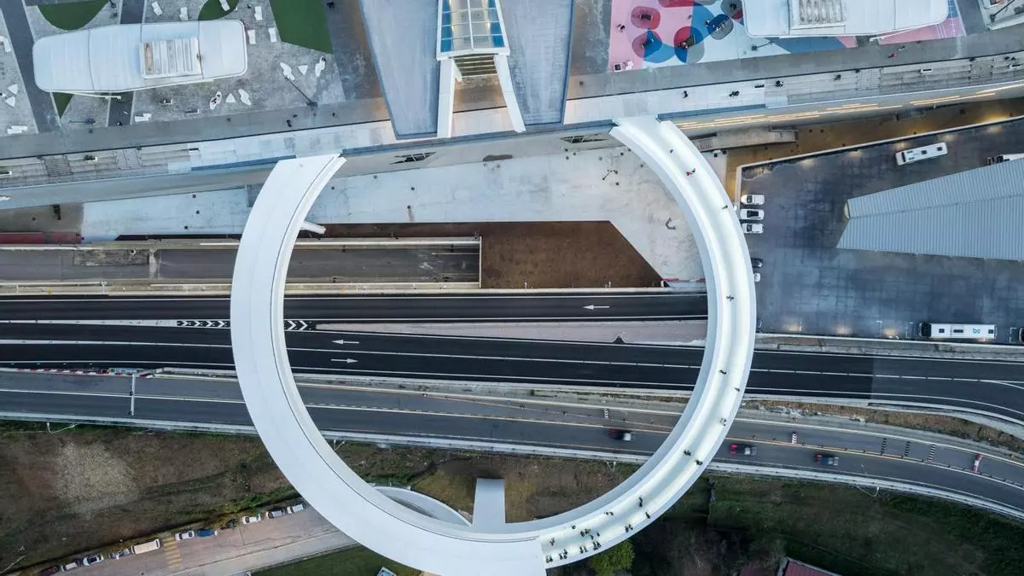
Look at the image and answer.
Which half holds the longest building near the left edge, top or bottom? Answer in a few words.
top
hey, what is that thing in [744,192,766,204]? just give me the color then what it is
white vehicle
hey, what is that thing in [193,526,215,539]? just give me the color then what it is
blue vehicle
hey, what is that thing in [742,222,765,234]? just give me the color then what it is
white vehicle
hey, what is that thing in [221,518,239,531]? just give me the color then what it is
black vehicle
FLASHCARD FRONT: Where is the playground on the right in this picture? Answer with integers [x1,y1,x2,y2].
[608,0,857,72]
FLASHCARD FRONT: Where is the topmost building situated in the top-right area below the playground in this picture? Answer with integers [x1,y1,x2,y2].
[690,126,800,153]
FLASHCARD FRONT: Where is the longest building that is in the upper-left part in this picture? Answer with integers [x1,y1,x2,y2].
[32,18,248,99]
